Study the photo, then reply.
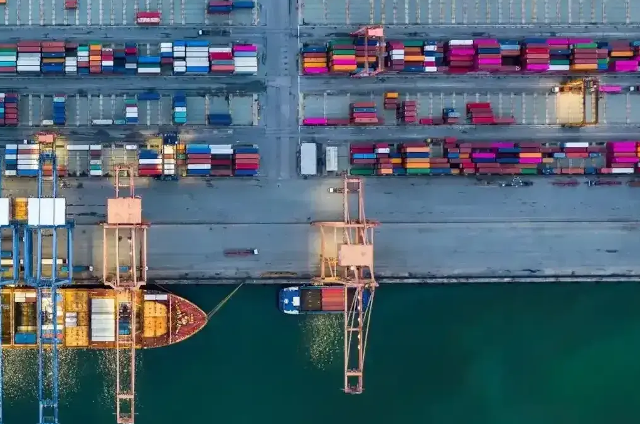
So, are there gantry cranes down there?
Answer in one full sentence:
Yes, the photo shows a gantry crane.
